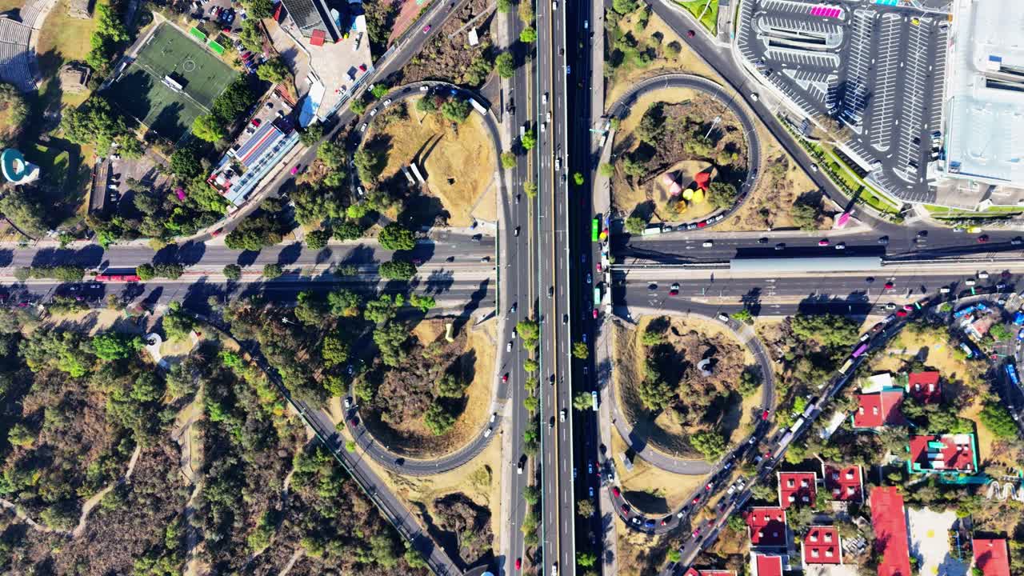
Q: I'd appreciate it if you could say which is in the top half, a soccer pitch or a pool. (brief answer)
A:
soccer pitch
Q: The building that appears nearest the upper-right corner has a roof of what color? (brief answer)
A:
white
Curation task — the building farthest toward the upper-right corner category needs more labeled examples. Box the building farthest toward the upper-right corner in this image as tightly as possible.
[927,0,1024,192]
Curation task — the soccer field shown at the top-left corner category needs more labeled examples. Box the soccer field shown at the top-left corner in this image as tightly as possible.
[102,21,237,145]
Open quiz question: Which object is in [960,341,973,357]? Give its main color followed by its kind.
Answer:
white vehicle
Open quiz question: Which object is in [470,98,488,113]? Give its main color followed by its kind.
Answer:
white vehicle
